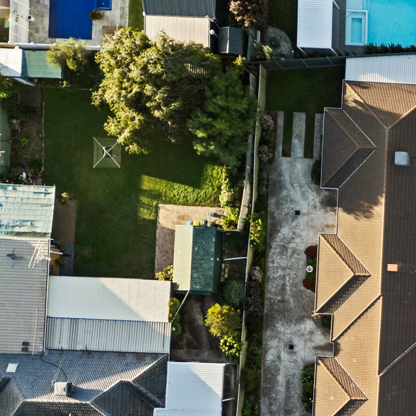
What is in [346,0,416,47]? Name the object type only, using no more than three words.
swimming pool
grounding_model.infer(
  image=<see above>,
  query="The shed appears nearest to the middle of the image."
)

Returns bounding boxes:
[172,225,230,293]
